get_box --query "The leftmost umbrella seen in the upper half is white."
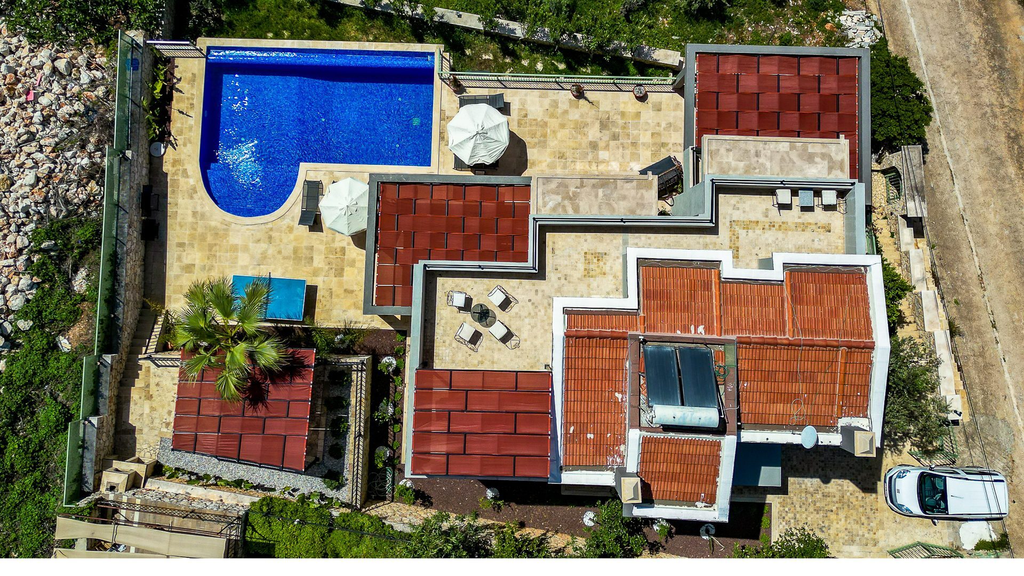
[318,177,369,236]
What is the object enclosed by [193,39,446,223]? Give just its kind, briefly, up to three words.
swimming pool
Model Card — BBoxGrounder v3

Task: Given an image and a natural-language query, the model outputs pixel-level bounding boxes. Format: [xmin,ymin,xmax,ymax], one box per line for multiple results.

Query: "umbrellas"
[318,177,369,236]
[448,105,508,164]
